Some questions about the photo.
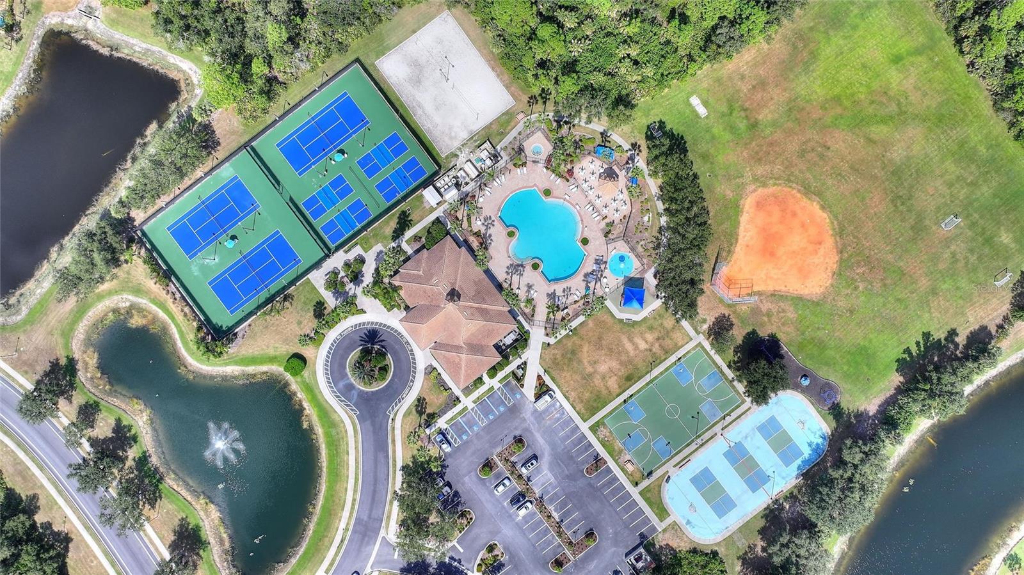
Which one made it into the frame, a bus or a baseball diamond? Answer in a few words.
baseball diamond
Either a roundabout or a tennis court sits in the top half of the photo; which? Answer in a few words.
tennis court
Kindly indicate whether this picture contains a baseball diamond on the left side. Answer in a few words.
No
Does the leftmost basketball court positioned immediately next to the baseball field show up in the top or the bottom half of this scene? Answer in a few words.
bottom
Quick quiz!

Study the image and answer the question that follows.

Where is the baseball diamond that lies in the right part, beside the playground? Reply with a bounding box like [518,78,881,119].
[710,184,840,304]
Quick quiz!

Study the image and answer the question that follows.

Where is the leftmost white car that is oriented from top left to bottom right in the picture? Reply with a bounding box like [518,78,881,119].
[436,435,451,453]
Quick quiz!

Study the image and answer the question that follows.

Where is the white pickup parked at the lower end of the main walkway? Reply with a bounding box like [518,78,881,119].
[535,392,555,410]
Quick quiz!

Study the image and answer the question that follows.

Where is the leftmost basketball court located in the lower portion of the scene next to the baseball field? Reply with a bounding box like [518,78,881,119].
[604,347,740,474]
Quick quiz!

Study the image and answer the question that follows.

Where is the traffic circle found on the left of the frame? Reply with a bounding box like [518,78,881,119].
[347,344,394,391]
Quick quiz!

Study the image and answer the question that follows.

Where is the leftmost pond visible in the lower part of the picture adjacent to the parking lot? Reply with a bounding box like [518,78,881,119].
[101,326,312,575]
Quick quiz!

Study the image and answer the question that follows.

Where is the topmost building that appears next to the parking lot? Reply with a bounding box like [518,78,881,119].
[390,235,518,390]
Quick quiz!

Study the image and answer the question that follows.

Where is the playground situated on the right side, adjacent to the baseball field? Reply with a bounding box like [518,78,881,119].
[742,336,841,411]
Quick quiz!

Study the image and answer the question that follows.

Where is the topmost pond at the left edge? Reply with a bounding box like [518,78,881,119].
[0,35,173,295]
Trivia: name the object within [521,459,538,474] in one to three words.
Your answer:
car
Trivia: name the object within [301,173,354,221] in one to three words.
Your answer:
sports court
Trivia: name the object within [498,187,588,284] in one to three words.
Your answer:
swimming pool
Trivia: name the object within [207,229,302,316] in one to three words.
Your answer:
tennis court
